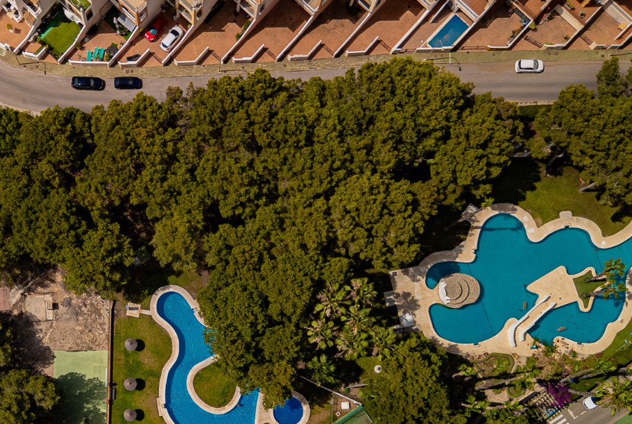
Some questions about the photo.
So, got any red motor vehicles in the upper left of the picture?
Yes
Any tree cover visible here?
Yes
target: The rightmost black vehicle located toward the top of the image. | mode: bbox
[114,77,142,91]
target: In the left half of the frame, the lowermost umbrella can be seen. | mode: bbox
[124,408,137,422]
